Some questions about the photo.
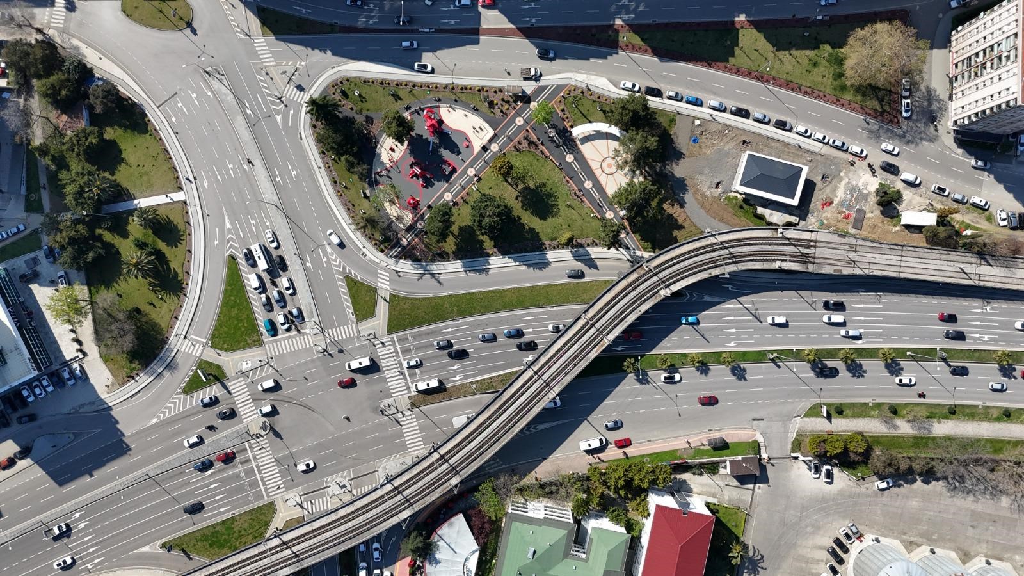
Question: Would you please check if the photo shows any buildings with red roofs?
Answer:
Yes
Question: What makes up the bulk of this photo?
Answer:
paved ground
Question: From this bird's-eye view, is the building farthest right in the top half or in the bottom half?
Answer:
top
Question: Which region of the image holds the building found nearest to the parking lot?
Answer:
left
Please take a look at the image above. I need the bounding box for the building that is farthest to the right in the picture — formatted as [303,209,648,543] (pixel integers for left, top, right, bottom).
[949,0,1024,152]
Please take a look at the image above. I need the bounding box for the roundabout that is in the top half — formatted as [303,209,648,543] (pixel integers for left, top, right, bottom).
[121,0,193,31]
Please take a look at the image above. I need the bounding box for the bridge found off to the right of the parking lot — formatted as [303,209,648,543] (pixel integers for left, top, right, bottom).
[178,228,1024,576]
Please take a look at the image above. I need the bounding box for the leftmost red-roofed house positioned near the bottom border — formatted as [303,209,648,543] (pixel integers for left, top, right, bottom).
[633,485,716,576]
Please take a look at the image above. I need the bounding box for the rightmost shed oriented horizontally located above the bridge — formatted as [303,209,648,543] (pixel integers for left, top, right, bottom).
[896,212,937,225]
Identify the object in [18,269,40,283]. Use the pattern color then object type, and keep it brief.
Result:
black car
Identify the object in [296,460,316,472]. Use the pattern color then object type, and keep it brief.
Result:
white vehicle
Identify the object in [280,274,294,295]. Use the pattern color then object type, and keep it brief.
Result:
white car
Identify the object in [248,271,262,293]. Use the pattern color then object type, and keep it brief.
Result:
white vehicle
